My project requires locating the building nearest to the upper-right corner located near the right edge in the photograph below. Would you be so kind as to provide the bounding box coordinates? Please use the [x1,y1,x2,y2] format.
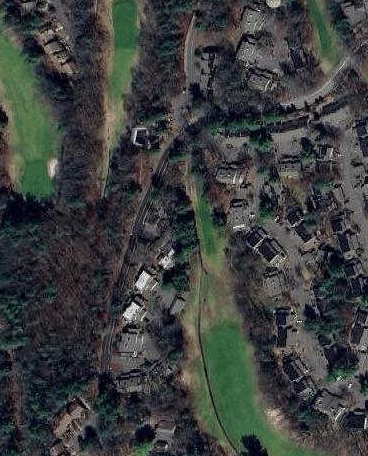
[342,0,368,25]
